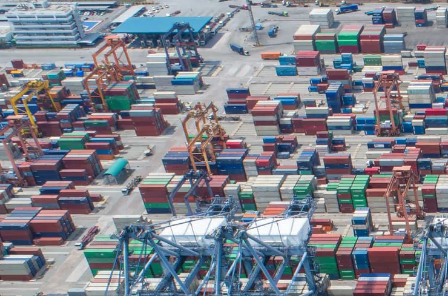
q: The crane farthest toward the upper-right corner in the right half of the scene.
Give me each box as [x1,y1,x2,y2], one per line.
[370,76,405,135]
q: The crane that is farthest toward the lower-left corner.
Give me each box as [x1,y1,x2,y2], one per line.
[0,120,38,185]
